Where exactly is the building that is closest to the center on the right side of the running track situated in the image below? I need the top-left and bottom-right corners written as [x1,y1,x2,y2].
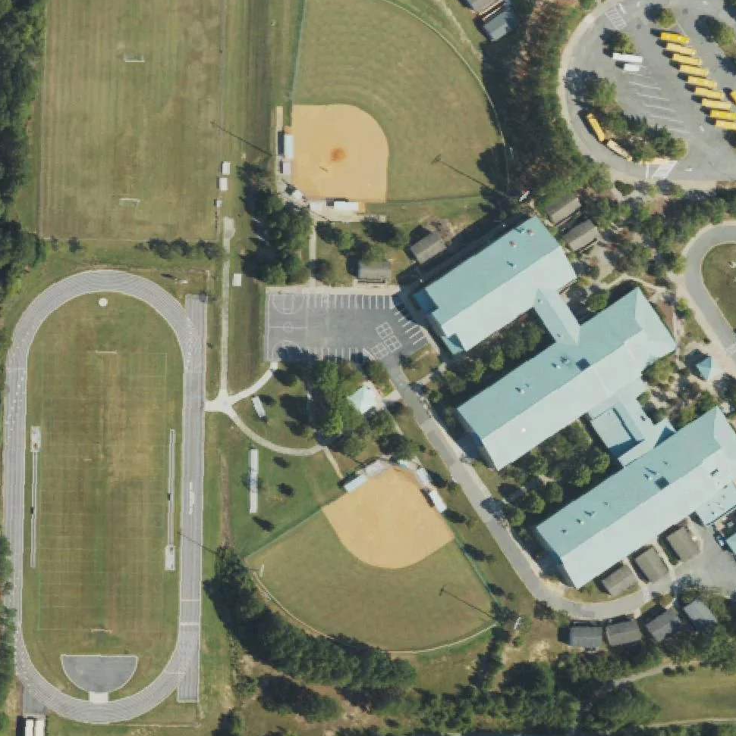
[350,382,382,412]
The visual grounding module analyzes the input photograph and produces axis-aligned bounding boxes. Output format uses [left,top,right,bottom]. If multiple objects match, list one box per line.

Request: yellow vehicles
[584,113,603,141]
[699,97,730,108]
[685,76,716,87]
[709,109,736,120]
[728,88,736,104]
[658,32,689,43]
[713,120,736,129]
[693,87,723,98]
[677,64,708,75]
[671,53,702,64]
[665,43,695,53]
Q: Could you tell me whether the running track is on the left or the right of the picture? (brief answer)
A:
left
